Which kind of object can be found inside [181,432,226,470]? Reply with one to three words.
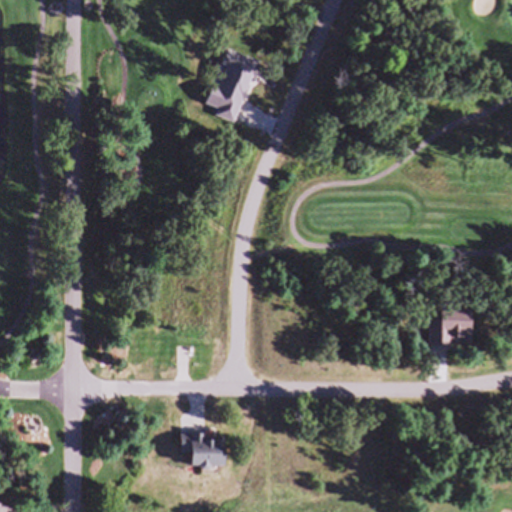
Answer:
house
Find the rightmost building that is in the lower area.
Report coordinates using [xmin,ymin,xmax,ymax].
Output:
[442,311,475,345]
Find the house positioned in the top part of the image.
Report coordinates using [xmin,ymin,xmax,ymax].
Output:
[208,59,260,121]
